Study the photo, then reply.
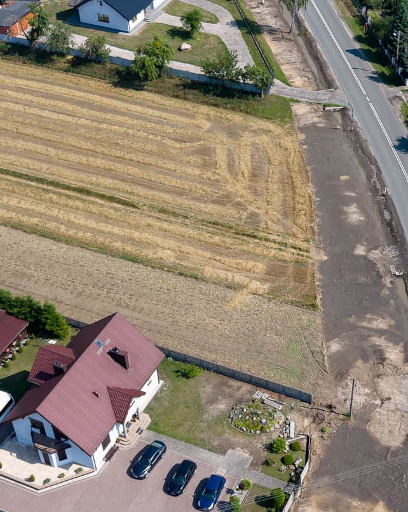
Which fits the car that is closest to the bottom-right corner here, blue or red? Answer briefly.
blue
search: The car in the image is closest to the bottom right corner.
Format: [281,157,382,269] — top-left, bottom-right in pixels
[194,469,228,512]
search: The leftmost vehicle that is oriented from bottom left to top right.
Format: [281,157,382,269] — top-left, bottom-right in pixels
[128,436,169,481]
